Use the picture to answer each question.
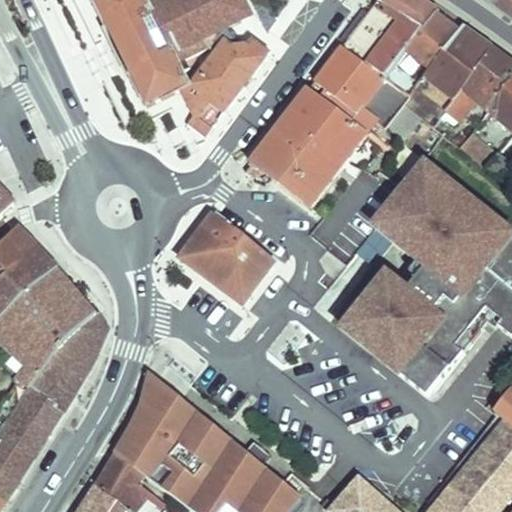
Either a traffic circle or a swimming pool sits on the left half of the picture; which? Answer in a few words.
traffic circle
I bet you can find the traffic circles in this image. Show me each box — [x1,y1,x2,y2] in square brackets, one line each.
[56,134,200,316]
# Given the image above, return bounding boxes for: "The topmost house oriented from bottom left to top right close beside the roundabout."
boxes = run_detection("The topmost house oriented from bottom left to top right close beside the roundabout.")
[180,32,268,130]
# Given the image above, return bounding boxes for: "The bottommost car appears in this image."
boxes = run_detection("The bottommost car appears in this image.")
[45,474,61,494]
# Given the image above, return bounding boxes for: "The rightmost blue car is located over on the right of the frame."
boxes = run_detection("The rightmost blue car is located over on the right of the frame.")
[456,424,477,441]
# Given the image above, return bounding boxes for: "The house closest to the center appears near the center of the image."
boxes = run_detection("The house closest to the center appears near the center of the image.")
[177,211,276,305]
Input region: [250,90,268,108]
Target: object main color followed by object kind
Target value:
white car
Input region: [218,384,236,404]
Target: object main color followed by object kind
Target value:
white car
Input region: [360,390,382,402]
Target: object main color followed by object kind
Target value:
white vehicle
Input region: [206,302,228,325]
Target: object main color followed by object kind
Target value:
white vehicle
